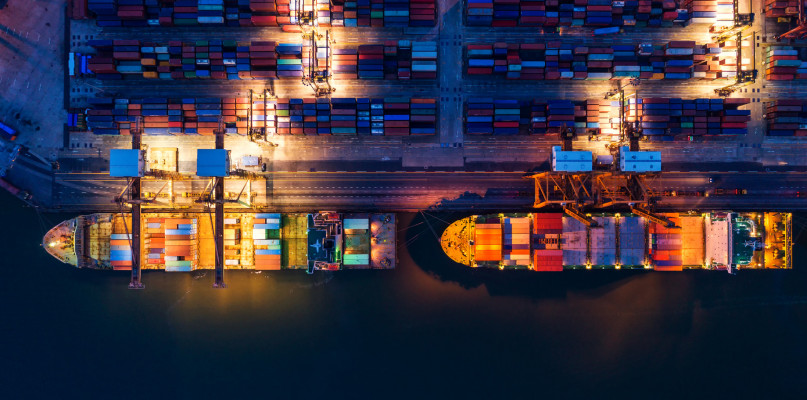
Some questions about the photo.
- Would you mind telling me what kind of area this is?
port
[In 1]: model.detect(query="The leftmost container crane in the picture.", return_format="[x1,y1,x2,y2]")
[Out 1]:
[106,114,210,291]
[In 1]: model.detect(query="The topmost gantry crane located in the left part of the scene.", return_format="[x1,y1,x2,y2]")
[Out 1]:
[297,0,325,42]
